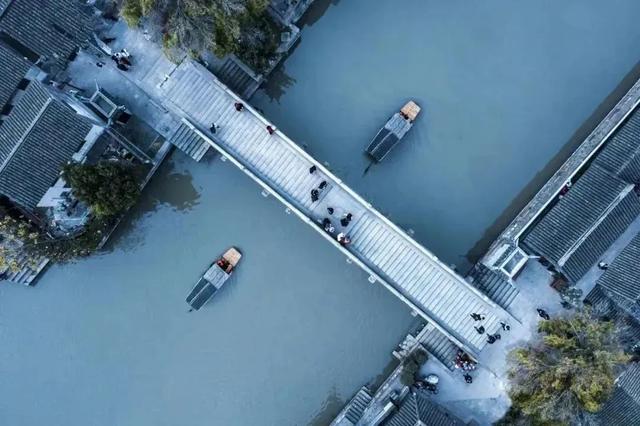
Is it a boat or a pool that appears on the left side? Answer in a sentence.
You can see a boat on the left side.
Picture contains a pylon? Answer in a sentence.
No, no pylon is visible in the scene.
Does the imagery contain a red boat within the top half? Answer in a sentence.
No, no red boat appears within the top half.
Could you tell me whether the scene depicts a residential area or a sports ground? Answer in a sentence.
The picture captures a residential area.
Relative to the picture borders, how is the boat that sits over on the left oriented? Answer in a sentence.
The boat that sits over on the left runs at an angle in the image.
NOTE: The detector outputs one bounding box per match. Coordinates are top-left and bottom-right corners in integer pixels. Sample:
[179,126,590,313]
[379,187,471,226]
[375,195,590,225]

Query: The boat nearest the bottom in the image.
[184,246,243,314]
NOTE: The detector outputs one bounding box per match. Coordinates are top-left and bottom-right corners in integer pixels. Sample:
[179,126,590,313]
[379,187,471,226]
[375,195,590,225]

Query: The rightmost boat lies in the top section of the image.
[361,98,422,166]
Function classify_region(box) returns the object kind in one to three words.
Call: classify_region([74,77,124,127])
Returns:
building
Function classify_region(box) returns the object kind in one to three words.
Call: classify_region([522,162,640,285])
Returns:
house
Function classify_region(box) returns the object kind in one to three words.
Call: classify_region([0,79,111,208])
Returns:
house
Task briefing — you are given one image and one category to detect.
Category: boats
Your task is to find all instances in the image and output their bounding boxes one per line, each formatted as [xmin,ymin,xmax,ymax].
[184,246,243,314]
[361,98,422,166]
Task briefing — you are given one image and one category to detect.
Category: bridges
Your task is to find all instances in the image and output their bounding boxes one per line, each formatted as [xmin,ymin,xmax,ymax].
[158,63,519,377]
